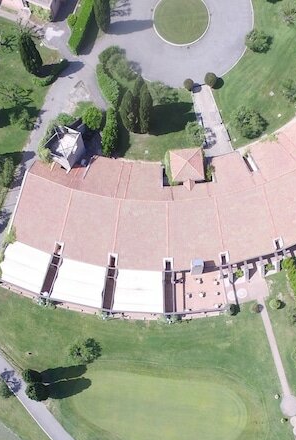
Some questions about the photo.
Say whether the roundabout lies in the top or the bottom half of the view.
top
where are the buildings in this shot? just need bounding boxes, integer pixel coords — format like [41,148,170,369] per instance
[27,0,64,20]
[11,125,296,276]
